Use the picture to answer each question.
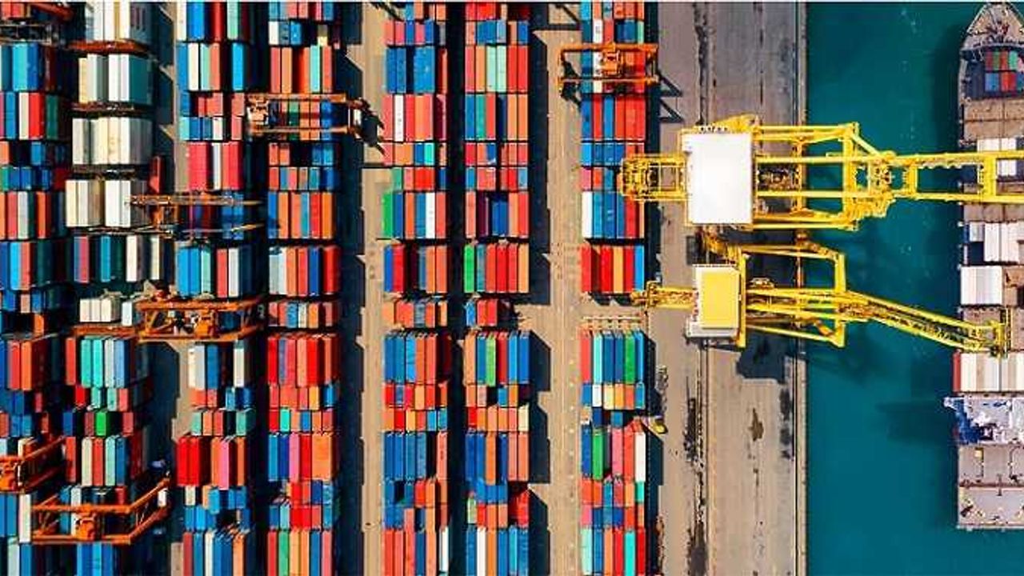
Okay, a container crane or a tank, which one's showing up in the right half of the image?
container crane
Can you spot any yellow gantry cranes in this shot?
Yes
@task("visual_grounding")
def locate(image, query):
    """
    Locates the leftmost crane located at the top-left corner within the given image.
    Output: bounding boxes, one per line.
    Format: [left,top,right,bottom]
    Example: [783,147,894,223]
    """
[0,7,81,67]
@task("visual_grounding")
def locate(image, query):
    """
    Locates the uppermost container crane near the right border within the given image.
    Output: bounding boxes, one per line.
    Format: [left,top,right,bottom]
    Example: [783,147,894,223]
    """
[619,114,1024,233]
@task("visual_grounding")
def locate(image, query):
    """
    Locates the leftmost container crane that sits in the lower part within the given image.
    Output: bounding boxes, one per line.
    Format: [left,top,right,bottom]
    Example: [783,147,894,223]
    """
[0,423,70,492]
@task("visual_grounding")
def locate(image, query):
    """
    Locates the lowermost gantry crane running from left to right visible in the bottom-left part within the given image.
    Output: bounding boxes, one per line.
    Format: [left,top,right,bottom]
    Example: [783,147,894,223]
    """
[31,468,169,544]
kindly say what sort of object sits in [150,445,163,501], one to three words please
vehicle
